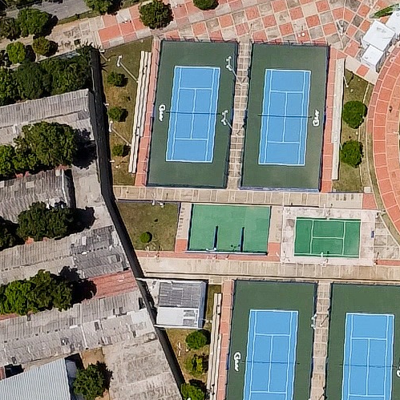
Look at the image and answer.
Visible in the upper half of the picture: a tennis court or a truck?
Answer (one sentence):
It is a tennis court that can be seen in the upper half of the picture.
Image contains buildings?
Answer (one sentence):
Yes, there's a building down there.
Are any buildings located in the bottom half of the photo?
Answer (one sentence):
Yes, a building is visible in the bottom half of the photo.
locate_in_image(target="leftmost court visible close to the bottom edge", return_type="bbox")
[227,282,318,400]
